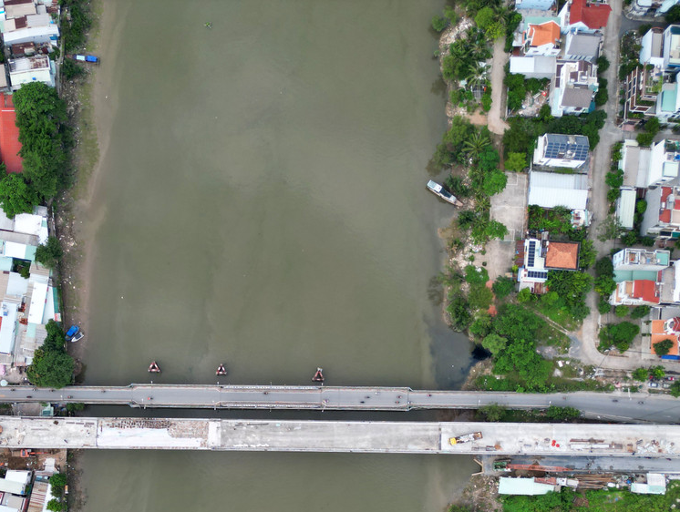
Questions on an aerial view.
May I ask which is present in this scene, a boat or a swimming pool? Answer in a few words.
boat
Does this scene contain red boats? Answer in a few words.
No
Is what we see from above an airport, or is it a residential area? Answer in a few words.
residential area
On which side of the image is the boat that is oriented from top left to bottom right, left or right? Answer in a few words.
right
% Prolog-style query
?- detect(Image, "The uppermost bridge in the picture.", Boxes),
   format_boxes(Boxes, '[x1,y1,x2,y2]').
[0,383,554,411]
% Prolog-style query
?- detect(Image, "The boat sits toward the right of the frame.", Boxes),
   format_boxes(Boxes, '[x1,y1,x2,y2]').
[427,177,463,204]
